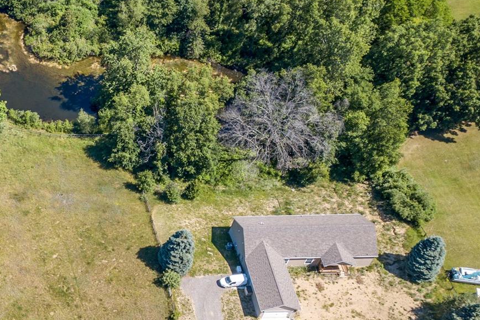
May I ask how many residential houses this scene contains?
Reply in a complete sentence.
My tally gives 1 residential house in this photo.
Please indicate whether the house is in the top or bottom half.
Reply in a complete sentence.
The bottom half of the photo is where the house is.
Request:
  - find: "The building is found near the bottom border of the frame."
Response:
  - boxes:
[231,214,378,317]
